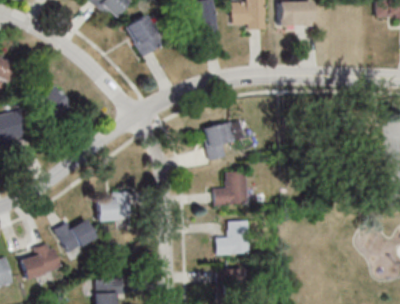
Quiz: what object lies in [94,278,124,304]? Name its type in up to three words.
house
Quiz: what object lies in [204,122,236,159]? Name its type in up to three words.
house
